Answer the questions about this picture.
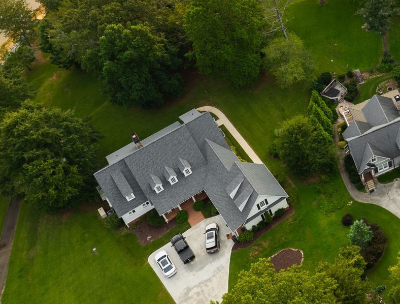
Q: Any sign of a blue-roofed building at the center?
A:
No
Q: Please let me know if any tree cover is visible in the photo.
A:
Yes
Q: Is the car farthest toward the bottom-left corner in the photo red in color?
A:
No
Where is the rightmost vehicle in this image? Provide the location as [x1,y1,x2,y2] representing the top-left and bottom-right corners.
[203,223,220,256]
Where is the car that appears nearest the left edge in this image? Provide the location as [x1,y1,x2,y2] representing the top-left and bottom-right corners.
[155,249,178,281]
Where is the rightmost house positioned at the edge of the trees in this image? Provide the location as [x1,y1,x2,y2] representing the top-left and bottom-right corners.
[339,89,400,193]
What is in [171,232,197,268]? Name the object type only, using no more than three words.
truck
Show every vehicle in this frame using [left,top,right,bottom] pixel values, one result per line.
[203,223,220,256]
[155,249,178,281]
[171,232,197,268]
